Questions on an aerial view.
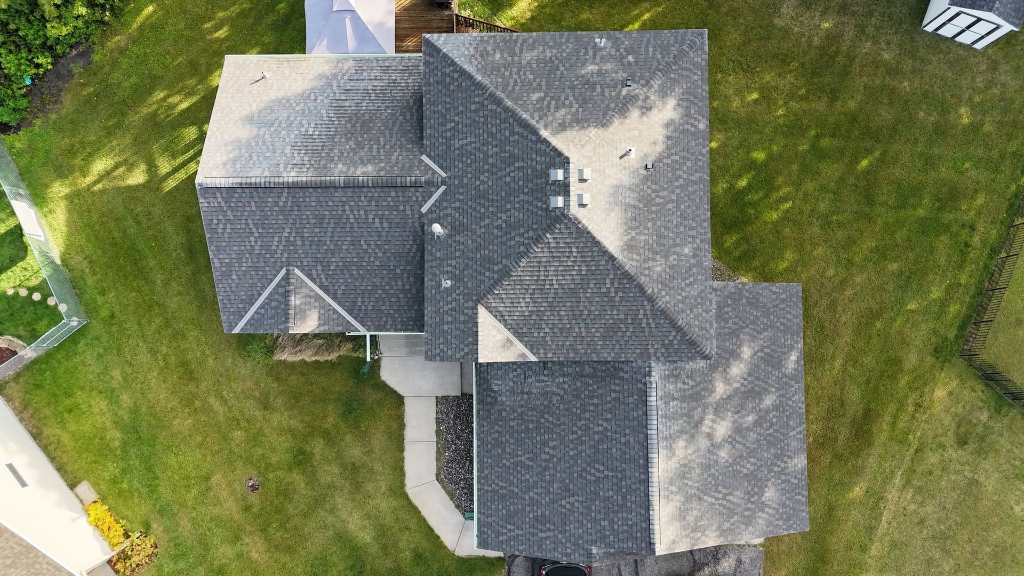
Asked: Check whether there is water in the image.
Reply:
No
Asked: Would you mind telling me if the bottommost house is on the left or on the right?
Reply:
left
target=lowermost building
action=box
[0,395,143,576]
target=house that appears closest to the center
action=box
[195,28,808,566]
